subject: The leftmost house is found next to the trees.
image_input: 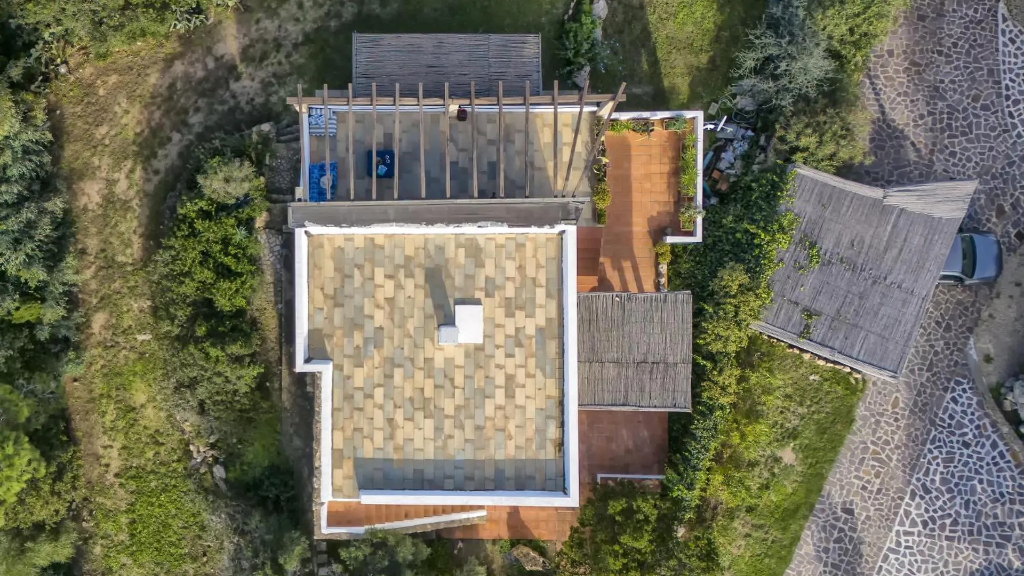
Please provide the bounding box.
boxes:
[288,197,591,505]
